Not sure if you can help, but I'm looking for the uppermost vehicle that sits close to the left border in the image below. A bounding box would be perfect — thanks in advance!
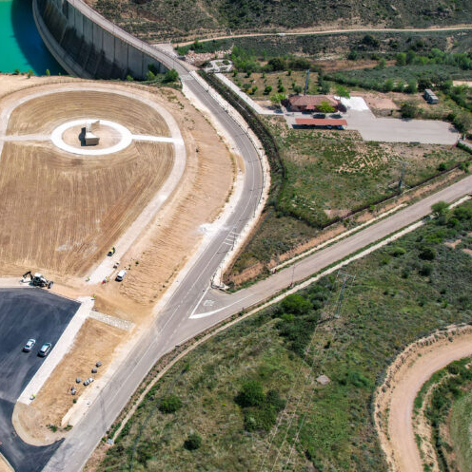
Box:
[20,269,54,288]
